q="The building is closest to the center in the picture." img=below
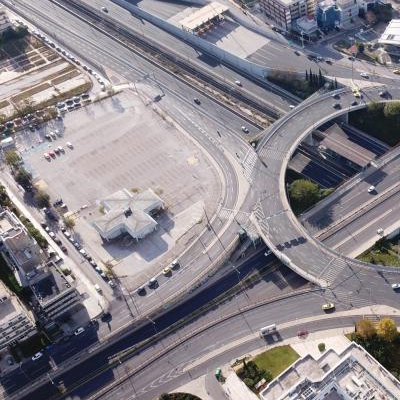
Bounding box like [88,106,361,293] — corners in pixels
[95,189,166,245]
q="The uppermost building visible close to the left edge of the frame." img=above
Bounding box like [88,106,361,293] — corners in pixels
[0,208,38,249]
